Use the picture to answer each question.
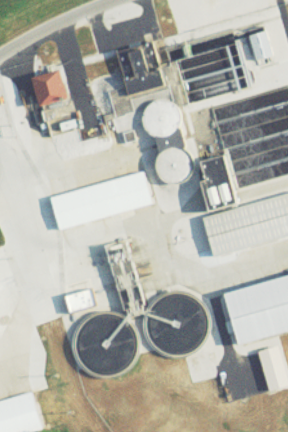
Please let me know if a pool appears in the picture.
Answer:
No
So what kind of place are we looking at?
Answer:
industrial area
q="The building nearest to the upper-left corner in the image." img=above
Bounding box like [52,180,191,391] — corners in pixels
[32,71,68,106]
